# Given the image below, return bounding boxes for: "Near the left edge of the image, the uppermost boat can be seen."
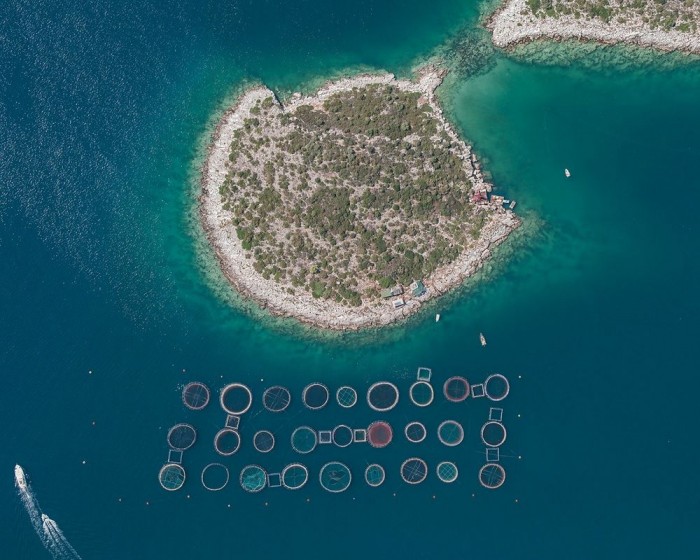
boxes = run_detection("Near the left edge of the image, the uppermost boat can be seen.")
[14,464,27,492]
